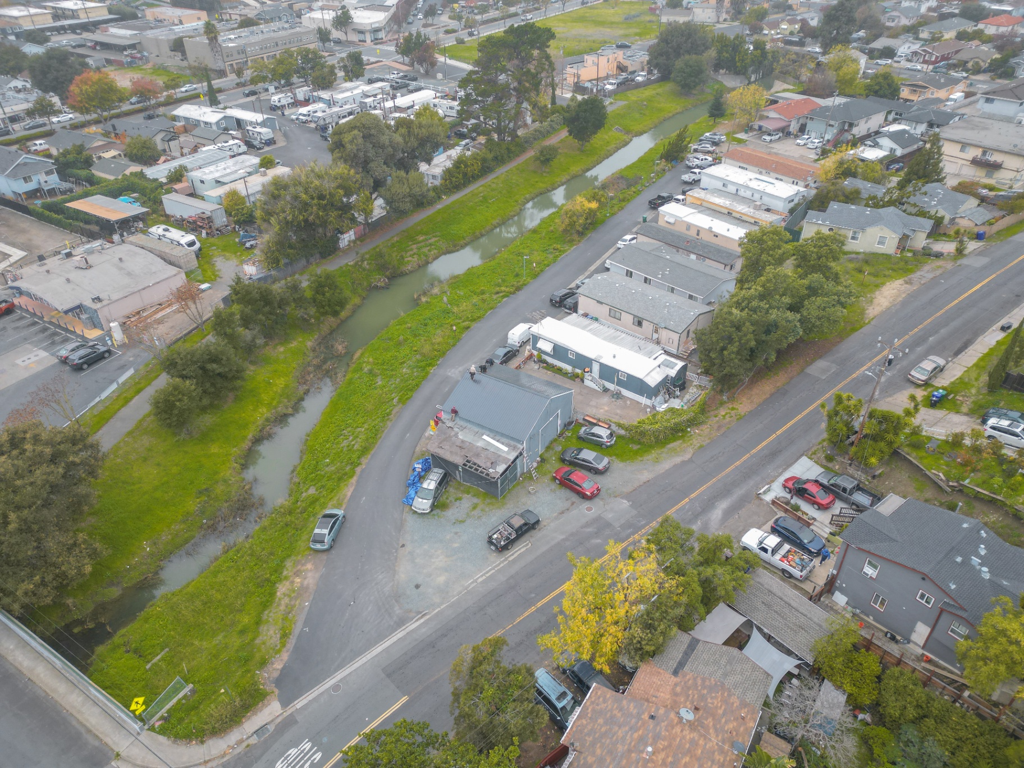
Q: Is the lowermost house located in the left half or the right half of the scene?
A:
right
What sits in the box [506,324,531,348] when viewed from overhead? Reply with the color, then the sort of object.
white vehicle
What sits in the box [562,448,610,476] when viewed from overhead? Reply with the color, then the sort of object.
gray car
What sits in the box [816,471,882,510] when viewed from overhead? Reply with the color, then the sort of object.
gray truck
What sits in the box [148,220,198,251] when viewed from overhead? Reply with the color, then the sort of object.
white trailer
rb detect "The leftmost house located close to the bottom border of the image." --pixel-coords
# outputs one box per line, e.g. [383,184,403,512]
[561,629,773,768]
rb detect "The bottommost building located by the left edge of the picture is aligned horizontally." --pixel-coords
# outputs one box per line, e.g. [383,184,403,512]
[8,241,188,333]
